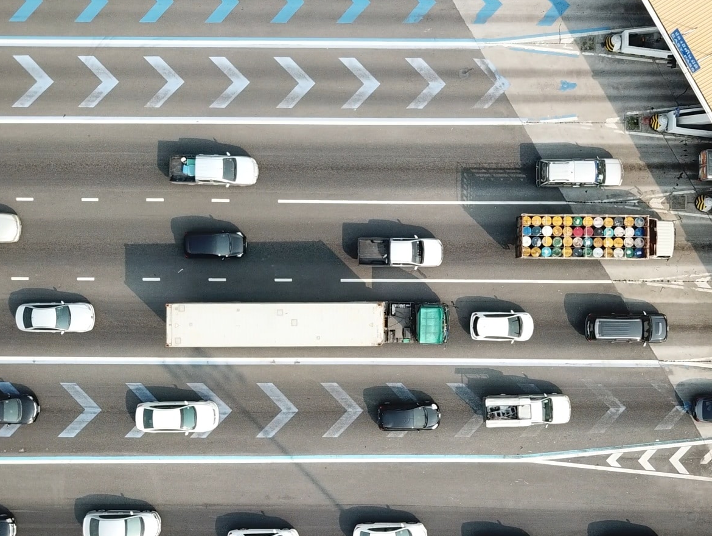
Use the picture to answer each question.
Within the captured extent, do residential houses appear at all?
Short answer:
No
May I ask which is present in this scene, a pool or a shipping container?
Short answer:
shipping container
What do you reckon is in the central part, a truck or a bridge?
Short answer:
truck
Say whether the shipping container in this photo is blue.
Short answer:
No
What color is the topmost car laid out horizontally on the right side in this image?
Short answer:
white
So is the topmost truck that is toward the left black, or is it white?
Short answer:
white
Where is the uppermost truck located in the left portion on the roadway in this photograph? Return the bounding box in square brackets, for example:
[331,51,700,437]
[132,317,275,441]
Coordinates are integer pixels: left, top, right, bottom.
[168,152,260,188]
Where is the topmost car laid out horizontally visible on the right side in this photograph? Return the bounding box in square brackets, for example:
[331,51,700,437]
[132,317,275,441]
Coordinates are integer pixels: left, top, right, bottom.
[536,153,623,188]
